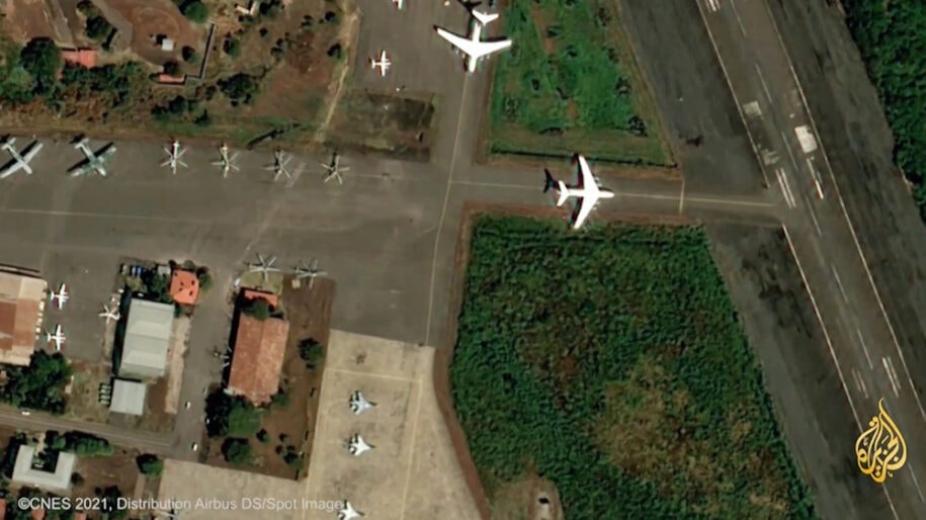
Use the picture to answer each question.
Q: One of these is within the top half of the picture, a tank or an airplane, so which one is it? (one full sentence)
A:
You can see an airplane within the top half of the picture.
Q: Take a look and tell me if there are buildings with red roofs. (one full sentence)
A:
Yes, there's a building with a red roof here.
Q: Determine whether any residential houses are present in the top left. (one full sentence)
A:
Yes, in the top left there is a residential house.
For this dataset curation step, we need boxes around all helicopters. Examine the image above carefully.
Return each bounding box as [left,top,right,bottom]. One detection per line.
[103,300,119,325]
[211,142,240,179]
[322,151,351,184]
[160,138,188,175]
[245,254,280,284]
[295,259,329,289]
[265,148,291,183]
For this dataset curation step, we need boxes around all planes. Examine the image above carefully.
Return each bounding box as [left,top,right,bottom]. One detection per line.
[350,434,381,457]
[439,12,511,74]
[71,138,117,177]
[338,501,369,520]
[0,137,43,178]
[51,284,70,309]
[351,392,382,415]
[397,0,405,10]
[373,50,391,76]
[48,325,67,351]
[557,155,616,230]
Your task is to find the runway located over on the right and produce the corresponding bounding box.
[696,0,926,520]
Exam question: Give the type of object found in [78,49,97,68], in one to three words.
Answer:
house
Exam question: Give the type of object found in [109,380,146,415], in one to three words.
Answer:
shed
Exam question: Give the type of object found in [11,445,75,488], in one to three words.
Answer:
building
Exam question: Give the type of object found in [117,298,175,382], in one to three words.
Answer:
hangar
